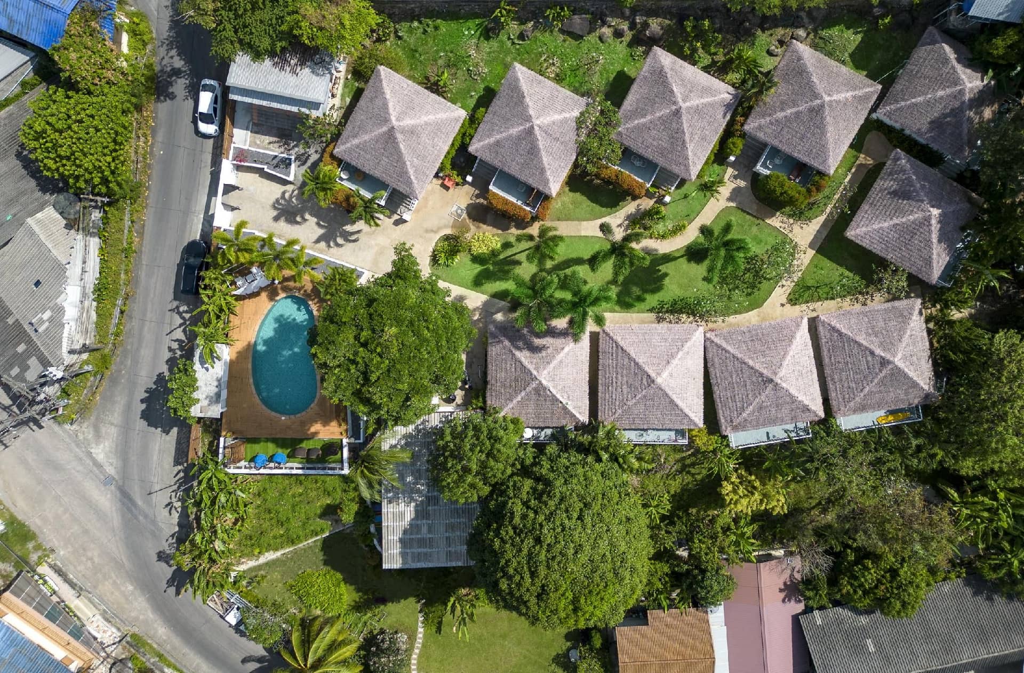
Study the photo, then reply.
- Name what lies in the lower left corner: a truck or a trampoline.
truck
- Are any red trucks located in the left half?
No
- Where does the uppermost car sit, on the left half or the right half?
left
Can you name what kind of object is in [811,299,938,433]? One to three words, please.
house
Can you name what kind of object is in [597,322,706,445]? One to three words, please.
house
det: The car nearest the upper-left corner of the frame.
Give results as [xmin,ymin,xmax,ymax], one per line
[193,78,226,139]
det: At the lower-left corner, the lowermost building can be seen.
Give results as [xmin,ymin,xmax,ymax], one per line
[0,573,113,673]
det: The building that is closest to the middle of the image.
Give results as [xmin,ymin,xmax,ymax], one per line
[485,324,591,443]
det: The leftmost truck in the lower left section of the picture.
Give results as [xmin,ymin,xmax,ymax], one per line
[200,593,248,637]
